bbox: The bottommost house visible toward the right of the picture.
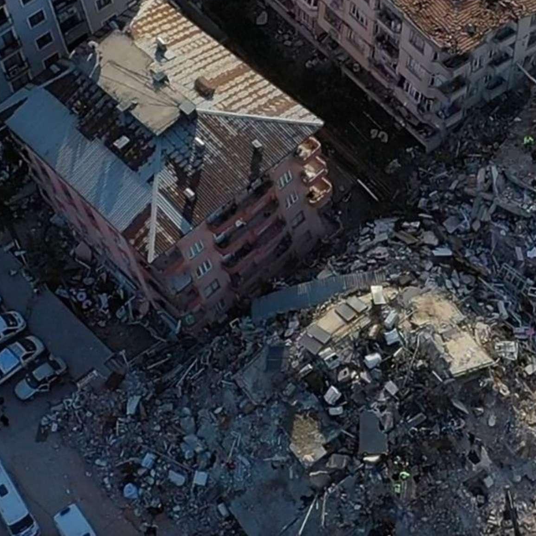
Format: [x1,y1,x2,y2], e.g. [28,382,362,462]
[394,366,458,426]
